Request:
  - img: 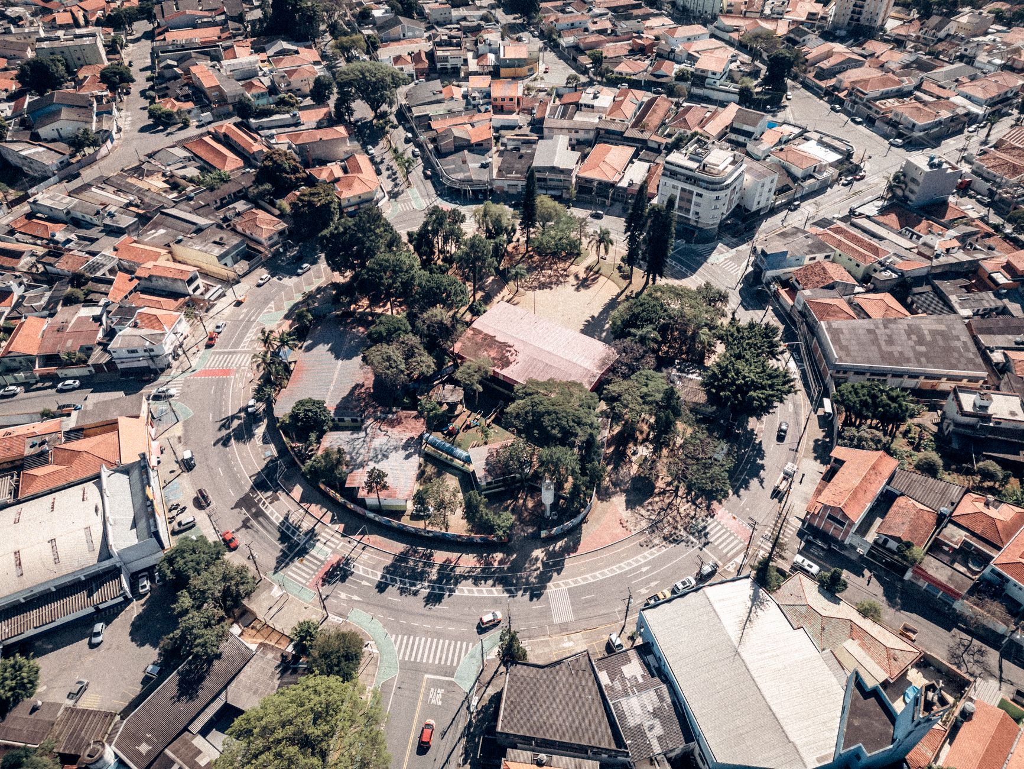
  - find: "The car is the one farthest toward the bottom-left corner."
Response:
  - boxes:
[59,671,94,707]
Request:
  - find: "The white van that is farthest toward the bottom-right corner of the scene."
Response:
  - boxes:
[788,546,824,578]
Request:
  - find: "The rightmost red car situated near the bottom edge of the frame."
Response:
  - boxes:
[417,717,436,750]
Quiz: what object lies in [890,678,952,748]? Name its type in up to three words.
building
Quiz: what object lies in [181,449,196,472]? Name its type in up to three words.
vehicle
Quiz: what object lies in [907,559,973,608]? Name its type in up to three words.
house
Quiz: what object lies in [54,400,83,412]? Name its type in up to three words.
vehicle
